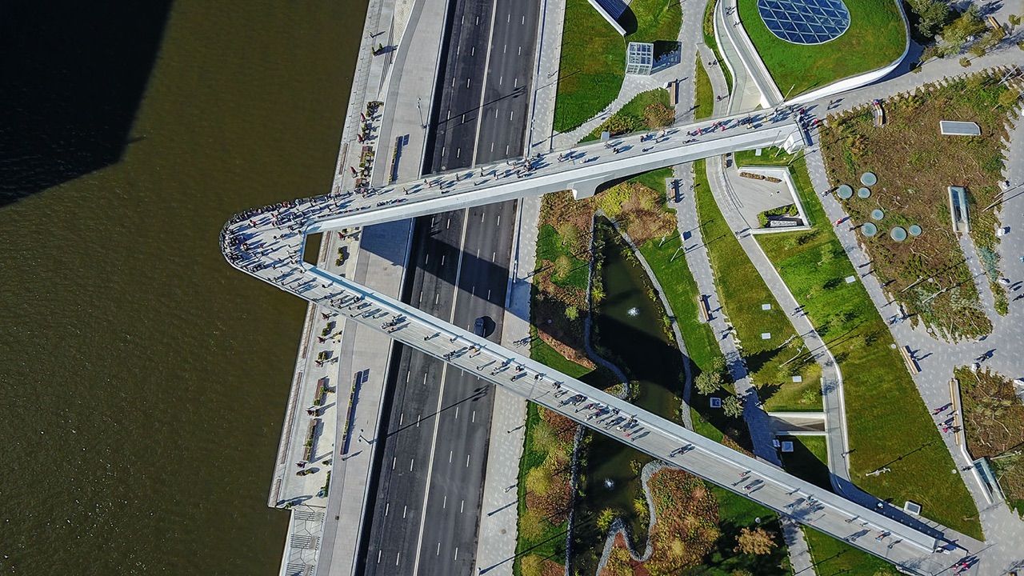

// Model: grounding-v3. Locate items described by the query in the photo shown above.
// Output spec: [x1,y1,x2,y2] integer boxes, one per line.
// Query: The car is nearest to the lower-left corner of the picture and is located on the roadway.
[476,316,488,339]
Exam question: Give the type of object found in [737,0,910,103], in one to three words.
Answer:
building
